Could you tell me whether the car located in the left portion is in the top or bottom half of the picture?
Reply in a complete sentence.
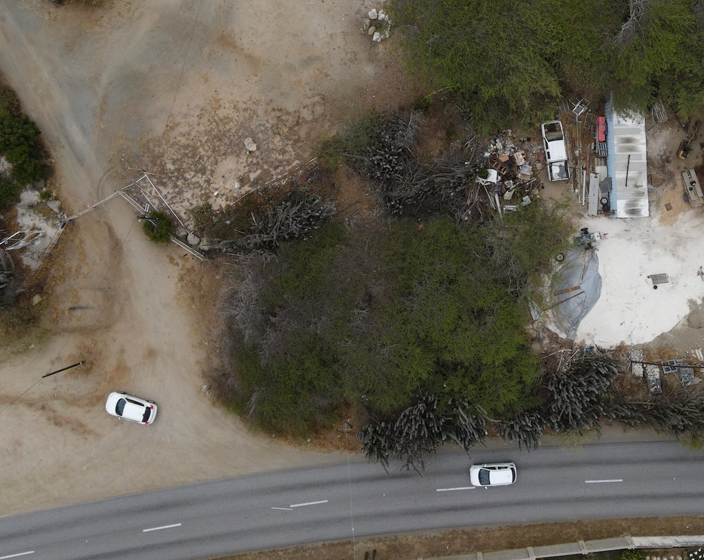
The car located in the left portion sits in the bottom half of the picture.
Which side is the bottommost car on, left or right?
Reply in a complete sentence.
You can find the bottommost car on the right side of the picture.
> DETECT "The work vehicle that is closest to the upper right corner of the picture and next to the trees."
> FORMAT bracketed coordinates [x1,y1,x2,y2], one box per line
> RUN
[671,127,698,163]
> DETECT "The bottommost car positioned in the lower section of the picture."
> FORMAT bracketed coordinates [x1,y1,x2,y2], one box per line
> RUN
[470,461,518,488]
